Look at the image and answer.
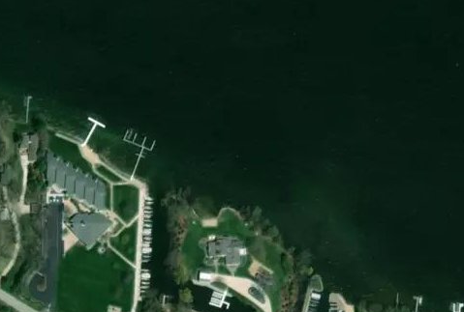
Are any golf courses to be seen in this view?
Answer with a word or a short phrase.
No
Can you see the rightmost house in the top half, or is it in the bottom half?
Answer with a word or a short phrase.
bottom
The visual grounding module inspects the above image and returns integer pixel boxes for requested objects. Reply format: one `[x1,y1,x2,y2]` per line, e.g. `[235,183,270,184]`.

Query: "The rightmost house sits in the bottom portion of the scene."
[209,235,248,264]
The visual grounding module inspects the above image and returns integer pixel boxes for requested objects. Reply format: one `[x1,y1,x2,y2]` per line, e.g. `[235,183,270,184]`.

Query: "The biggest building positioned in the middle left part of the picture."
[47,150,107,213]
